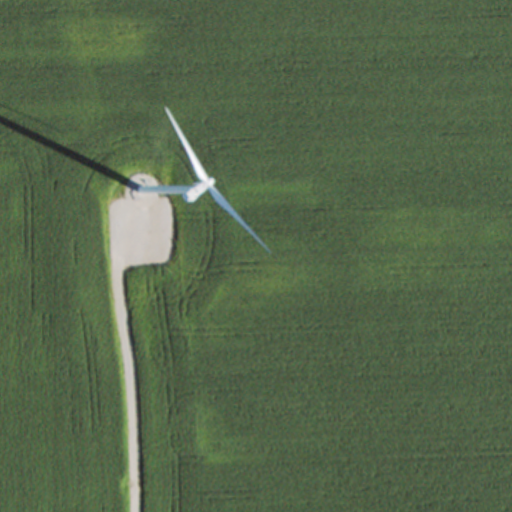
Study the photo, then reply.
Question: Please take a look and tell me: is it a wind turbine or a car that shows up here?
wind turbine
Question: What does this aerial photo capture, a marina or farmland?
farmland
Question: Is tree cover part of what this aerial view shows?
No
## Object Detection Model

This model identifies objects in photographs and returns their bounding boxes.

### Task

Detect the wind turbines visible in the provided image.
[138,106,270,252]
